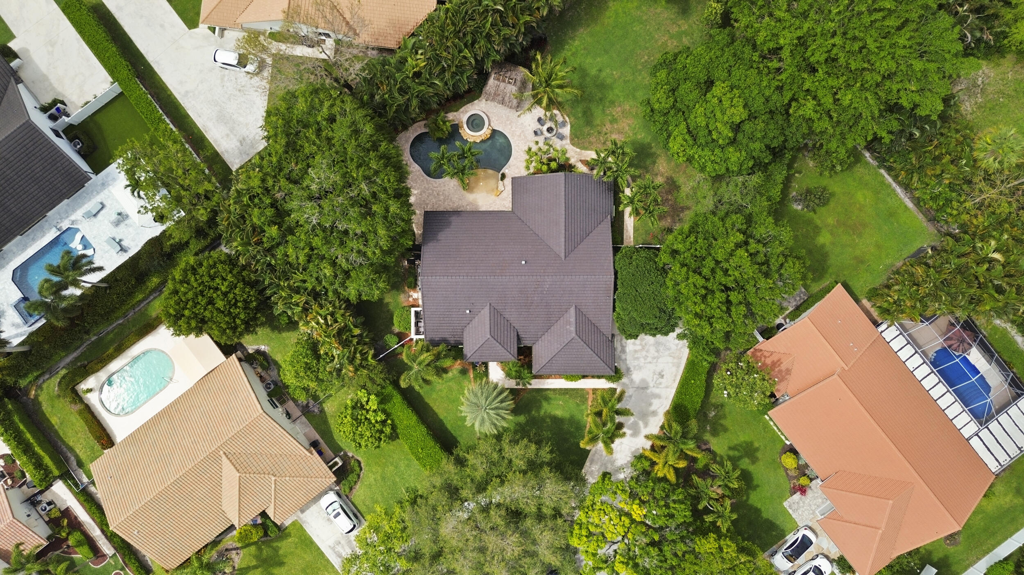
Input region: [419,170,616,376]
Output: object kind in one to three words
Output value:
house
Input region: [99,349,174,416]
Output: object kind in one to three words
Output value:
swimming pool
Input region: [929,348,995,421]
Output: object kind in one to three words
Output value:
swimming pool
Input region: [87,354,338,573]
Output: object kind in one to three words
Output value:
house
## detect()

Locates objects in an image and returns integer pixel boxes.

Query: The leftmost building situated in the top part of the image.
[0,42,105,253]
